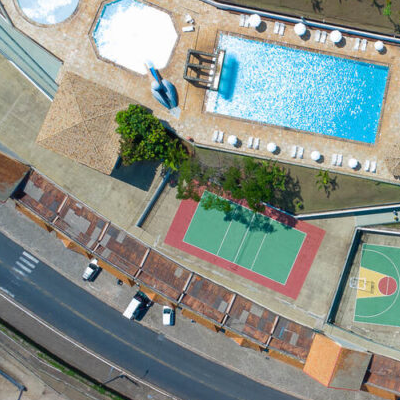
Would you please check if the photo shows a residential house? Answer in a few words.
Yes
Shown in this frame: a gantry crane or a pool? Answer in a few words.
pool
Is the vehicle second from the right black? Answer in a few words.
No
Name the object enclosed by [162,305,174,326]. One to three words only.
vehicle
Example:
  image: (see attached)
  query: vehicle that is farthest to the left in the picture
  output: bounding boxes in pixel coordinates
[83,258,99,280]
